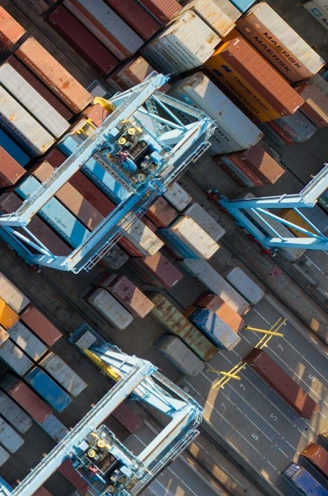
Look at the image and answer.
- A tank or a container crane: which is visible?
container crane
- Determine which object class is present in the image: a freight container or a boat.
freight container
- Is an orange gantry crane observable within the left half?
No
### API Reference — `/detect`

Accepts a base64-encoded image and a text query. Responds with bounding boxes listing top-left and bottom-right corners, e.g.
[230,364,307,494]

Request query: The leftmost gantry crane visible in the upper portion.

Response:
[0,68,225,287]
